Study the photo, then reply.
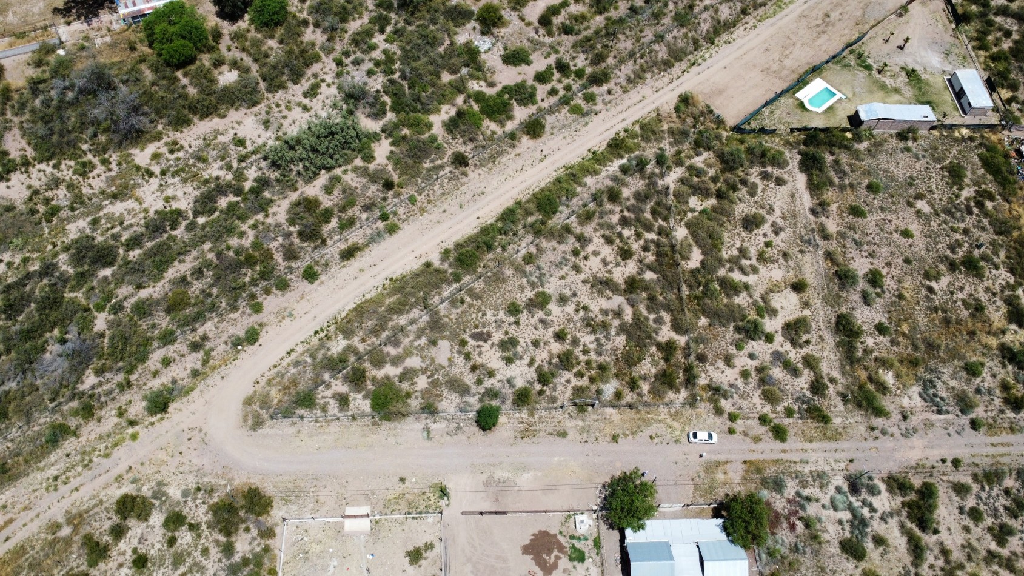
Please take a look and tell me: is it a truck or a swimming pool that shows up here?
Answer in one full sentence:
There is a swimming pool in the scene.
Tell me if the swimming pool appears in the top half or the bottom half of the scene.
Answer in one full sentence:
The swimming pool is in the top half of the image.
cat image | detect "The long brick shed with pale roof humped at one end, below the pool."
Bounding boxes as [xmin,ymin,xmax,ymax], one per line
[851,101,938,131]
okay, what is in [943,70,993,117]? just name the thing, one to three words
shed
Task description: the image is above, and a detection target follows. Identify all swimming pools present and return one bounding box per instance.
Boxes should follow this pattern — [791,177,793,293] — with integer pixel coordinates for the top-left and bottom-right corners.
[794,78,846,114]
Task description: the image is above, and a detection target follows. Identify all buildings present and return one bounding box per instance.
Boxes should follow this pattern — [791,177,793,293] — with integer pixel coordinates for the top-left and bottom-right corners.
[622,519,749,576]
[943,70,993,117]
[114,0,175,27]
[851,101,938,131]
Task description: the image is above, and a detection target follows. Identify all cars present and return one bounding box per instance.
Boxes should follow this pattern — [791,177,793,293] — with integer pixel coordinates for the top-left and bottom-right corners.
[689,430,719,445]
